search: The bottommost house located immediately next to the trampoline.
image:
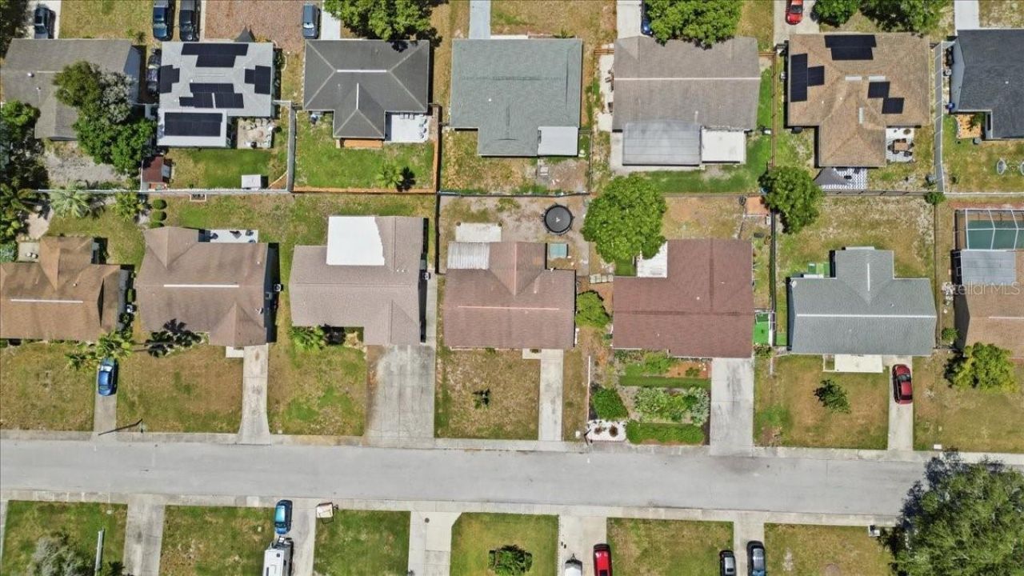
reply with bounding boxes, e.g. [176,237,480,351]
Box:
[443,241,577,348]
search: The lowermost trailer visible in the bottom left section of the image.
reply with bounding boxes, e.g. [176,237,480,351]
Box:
[263,533,291,576]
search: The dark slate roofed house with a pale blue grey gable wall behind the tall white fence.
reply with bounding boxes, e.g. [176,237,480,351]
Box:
[946,29,1024,141]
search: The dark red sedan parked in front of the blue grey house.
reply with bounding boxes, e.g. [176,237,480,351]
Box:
[892,364,913,403]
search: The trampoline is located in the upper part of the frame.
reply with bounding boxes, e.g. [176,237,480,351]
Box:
[543,204,574,234]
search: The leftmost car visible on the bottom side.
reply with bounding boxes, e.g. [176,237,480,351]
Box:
[97,359,118,395]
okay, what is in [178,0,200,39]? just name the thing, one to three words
truck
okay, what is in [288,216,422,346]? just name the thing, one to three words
house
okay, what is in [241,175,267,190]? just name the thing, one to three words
shed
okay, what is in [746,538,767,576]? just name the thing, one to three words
car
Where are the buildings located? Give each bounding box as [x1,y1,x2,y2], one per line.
[304,39,430,140]
[450,38,582,158]
[946,29,1024,141]
[158,41,278,151]
[612,37,762,168]
[443,241,577,348]
[241,175,267,190]
[613,239,758,358]
[948,250,1024,358]
[784,33,930,168]
[132,226,273,348]
[0,236,129,339]
[784,247,940,355]
[288,216,422,346]
[142,155,178,189]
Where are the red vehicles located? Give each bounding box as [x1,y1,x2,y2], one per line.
[784,0,803,22]
[892,364,913,403]
[593,541,611,576]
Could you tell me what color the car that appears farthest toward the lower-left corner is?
blue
